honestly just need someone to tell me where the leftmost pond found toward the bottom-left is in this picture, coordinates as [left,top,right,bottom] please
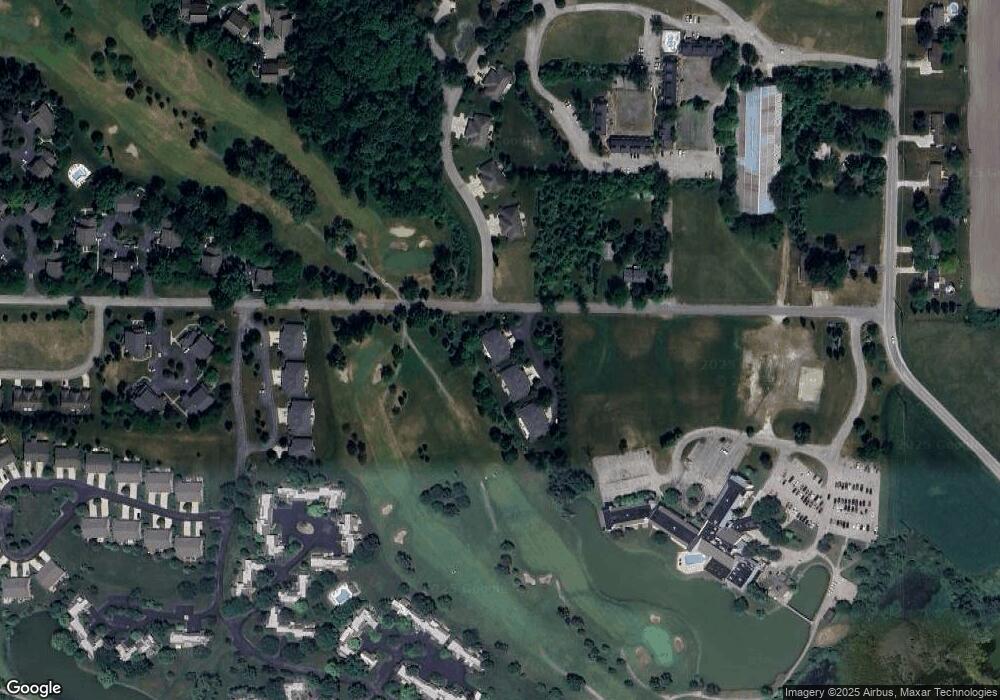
[10,611,129,700]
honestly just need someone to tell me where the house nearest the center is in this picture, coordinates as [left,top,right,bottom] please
[480,326,516,369]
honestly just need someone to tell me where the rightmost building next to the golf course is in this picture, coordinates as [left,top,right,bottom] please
[598,474,760,590]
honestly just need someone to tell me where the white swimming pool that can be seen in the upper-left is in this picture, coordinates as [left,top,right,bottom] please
[68,164,91,187]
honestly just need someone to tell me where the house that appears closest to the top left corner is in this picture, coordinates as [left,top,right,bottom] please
[27,102,54,143]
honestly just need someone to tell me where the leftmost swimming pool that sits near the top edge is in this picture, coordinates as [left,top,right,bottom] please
[662,30,680,53]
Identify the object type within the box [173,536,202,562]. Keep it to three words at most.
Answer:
house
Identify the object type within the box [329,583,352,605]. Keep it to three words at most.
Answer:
swimming pool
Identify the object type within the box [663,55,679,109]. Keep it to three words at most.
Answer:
building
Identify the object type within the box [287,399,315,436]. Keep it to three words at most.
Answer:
house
